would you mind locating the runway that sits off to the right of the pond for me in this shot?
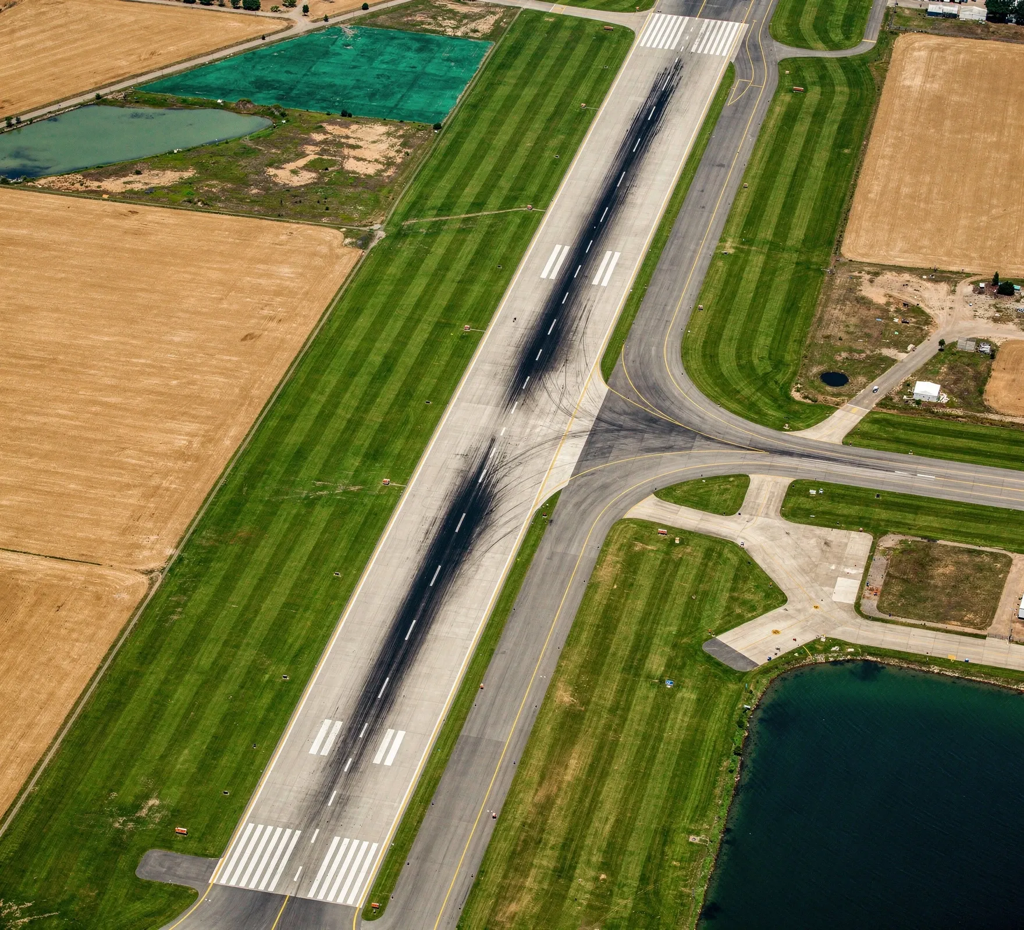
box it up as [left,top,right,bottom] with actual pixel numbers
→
[206,13,878,908]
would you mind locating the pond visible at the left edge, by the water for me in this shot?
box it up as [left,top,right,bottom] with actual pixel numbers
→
[0,103,272,178]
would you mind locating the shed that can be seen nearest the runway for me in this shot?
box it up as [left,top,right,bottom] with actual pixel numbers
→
[914,381,942,402]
